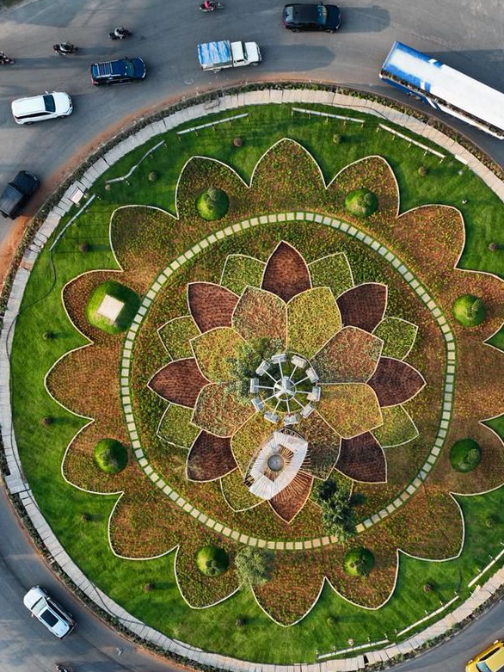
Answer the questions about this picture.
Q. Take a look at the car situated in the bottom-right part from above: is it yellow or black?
yellow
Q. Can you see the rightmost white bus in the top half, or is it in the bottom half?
top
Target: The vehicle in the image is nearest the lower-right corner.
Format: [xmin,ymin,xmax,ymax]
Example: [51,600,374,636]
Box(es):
[464,641,504,672]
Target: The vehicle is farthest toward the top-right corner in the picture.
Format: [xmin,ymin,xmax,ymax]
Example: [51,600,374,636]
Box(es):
[379,42,504,142]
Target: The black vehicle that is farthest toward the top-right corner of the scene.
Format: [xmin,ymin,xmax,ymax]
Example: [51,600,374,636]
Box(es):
[283,2,341,34]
